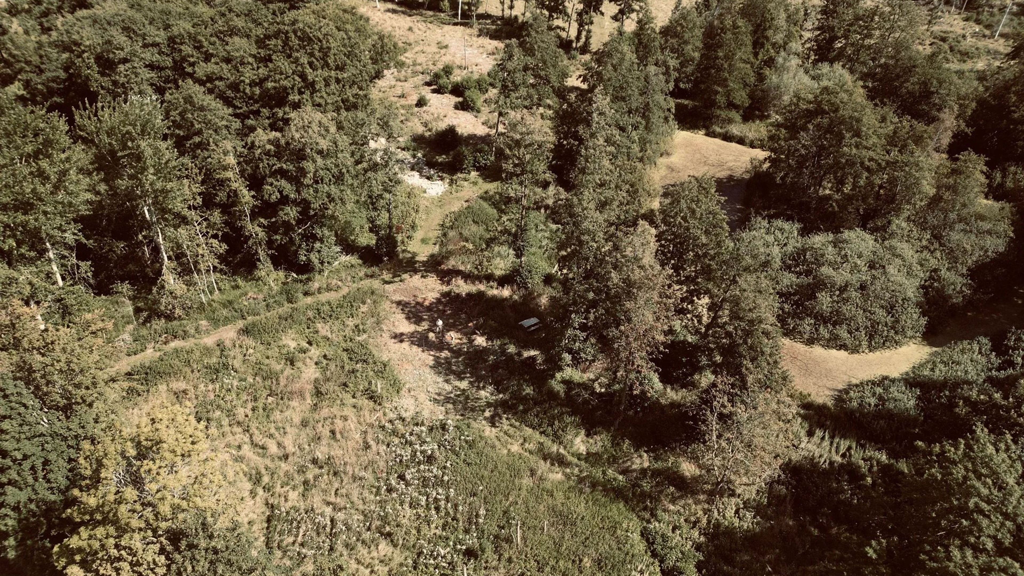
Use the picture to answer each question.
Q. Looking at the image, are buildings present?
No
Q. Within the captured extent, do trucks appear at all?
No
